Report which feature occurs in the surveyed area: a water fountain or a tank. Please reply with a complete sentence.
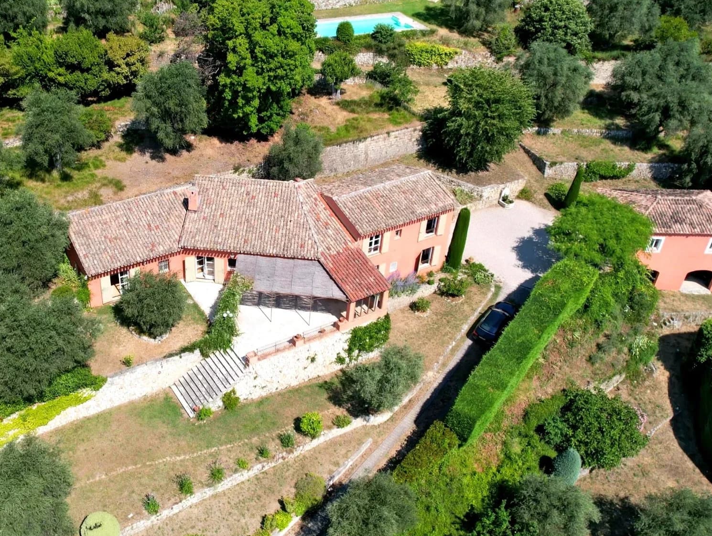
Visible in the photo is a water fountain.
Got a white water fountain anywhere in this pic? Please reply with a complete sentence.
Yes, there is a white water fountain in the image.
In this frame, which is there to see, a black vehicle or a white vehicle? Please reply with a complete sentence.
There is a black vehicle in the scene.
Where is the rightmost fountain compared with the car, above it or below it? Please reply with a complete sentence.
As seen from overhead, the rightmost fountain falls above the car in the picture.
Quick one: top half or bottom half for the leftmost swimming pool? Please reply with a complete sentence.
It is in the top half that the leftmost swimming pool appears.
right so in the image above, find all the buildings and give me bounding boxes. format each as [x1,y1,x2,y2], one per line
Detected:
[593,186,712,301]
[63,161,455,322]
